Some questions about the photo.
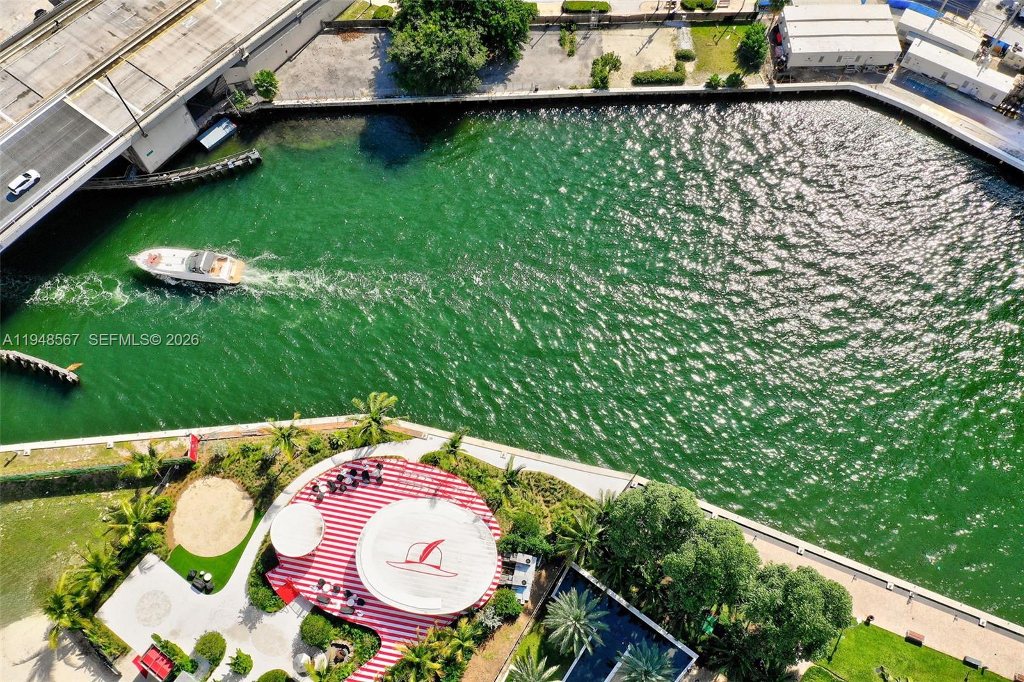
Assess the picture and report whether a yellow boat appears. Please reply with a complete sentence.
No, this view has no yellow boat in it.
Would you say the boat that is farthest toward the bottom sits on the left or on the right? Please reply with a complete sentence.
You can find the boat that is farthest toward the bottom on the left side of the picture.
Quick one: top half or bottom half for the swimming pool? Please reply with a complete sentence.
The swimming pool sits in the bottom half of the picture.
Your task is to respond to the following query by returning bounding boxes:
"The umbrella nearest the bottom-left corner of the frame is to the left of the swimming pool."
[292,650,316,676]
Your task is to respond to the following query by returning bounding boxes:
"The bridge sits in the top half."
[0,0,356,257]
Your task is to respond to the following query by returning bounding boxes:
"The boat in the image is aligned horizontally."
[128,247,248,286]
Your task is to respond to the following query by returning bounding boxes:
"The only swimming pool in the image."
[552,564,698,682]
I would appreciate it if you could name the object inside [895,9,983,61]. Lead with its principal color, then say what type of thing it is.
white trailer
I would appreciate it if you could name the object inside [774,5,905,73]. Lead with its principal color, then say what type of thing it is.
white trailer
